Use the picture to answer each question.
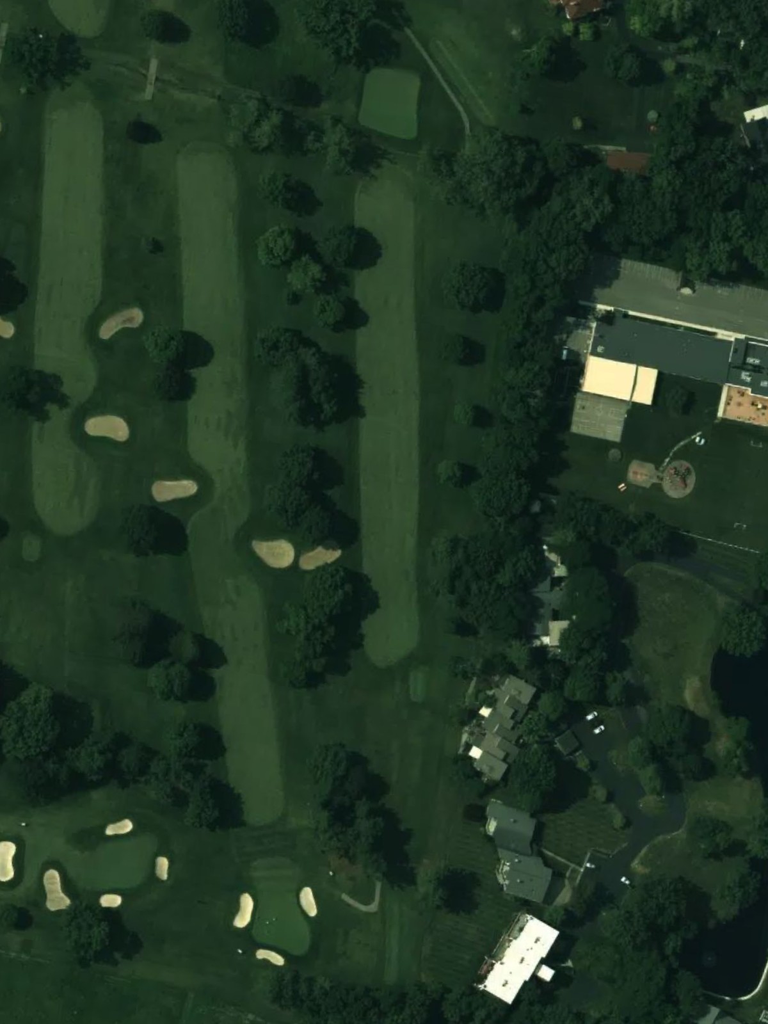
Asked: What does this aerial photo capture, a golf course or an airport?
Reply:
golf course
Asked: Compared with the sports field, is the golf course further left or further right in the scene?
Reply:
left of it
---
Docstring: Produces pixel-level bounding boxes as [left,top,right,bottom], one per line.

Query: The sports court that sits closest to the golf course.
[570,392,631,442]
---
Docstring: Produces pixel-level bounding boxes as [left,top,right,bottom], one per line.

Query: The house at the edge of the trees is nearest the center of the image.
[533,572,569,645]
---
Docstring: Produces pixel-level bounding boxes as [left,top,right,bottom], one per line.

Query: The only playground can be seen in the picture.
[626,460,696,498]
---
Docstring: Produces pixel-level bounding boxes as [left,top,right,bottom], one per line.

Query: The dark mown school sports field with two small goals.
[554,374,768,553]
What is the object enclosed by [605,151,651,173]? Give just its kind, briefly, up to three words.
barn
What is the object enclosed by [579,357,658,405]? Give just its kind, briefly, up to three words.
building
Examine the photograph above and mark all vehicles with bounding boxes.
[593,725,605,734]
[585,863,596,869]
[620,877,630,885]
[562,348,567,359]
[586,712,597,721]
[740,38,745,49]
